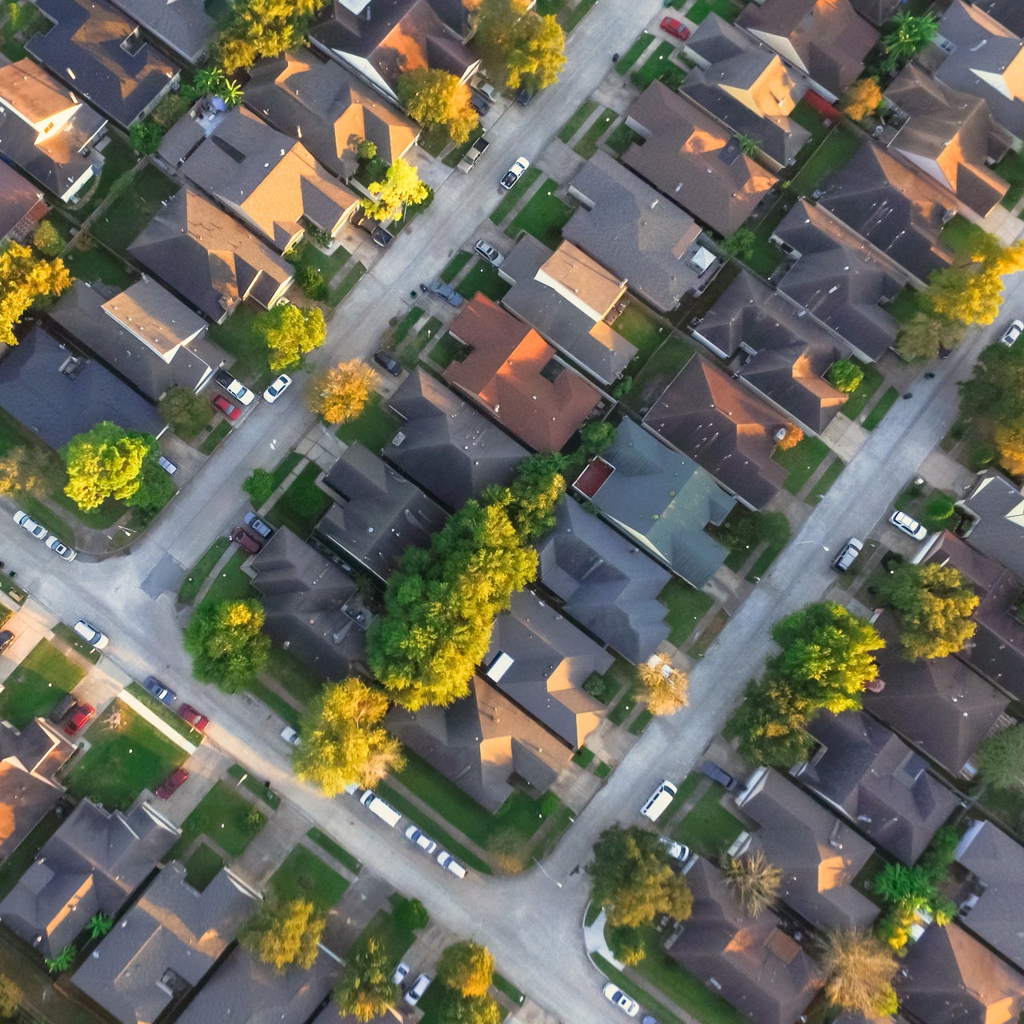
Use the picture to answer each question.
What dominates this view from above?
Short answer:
buildings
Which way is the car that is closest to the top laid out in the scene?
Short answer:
at an angle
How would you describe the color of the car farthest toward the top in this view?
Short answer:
red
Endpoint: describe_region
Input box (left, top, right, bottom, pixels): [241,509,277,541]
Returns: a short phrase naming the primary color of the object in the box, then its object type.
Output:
blue car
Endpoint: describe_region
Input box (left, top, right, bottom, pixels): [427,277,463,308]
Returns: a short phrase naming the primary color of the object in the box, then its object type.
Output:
blue car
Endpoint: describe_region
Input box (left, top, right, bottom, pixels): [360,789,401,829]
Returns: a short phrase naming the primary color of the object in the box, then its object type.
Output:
white van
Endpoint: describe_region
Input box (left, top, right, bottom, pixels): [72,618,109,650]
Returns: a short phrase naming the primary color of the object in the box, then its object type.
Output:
white car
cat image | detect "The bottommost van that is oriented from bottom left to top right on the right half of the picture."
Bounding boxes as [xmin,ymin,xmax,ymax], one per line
[639,779,676,822]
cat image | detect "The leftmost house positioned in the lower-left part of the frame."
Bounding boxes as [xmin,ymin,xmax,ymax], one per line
[0,706,83,874]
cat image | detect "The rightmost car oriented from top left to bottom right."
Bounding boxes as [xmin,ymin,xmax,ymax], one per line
[889,509,927,541]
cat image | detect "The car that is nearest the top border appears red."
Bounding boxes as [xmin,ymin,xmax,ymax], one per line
[657,13,693,45]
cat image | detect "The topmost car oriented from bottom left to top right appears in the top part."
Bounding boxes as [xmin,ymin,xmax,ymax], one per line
[509,79,541,113]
